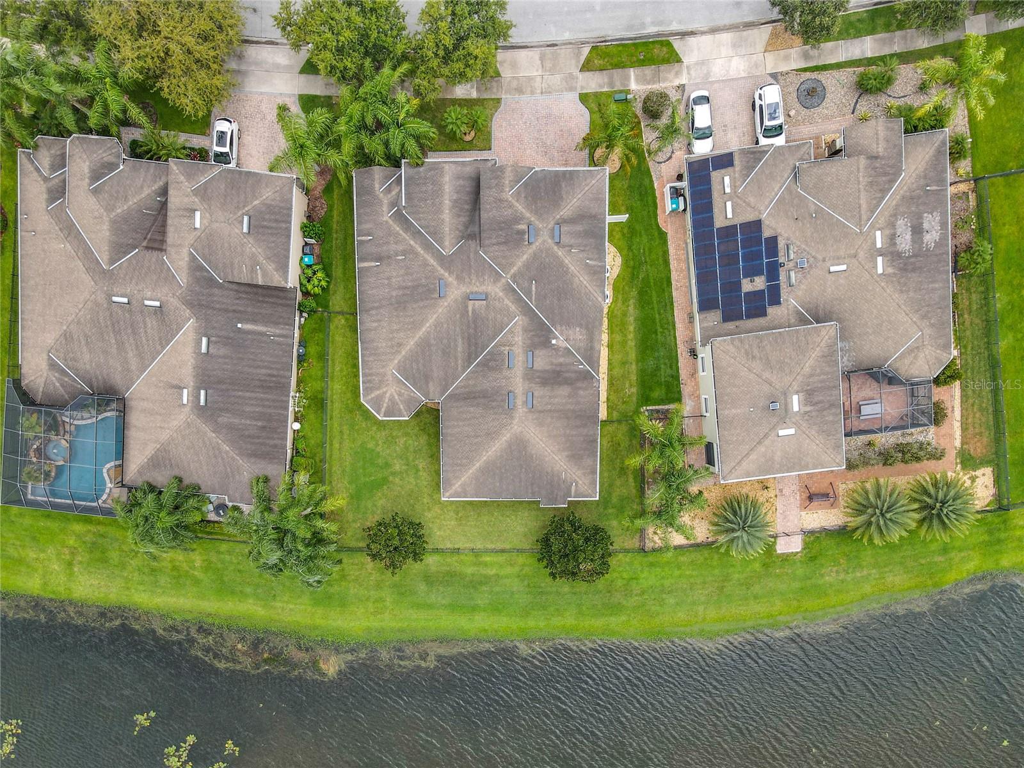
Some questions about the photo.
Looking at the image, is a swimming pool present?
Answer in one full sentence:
Yes, you can see a swimming pool in this photo.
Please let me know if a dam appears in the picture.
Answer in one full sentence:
No, I can't see a single dam in this photo.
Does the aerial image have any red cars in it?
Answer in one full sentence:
No, there isn't any red car down there.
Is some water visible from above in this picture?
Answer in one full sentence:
Yes, water shows up in the scene.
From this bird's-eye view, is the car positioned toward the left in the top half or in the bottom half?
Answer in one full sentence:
You can find the car positioned toward the left in the top half.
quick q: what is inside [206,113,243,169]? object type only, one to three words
car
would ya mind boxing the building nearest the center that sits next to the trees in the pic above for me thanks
[352,157,608,507]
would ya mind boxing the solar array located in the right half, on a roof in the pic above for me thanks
[688,152,781,322]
